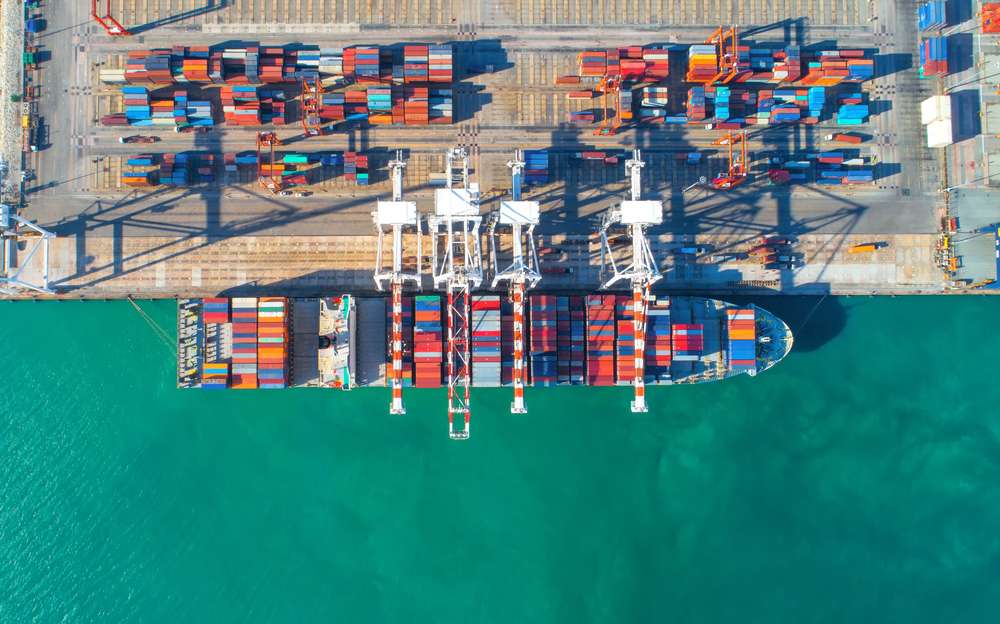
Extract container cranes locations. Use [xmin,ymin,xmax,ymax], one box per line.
[589,152,663,411]
[91,0,131,37]
[298,74,327,139]
[425,144,486,439]
[701,22,739,87]
[709,129,748,190]
[482,152,543,412]
[256,130,287,192]
[366,152,428,412]
[591,73,623,137]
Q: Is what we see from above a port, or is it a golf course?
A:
port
